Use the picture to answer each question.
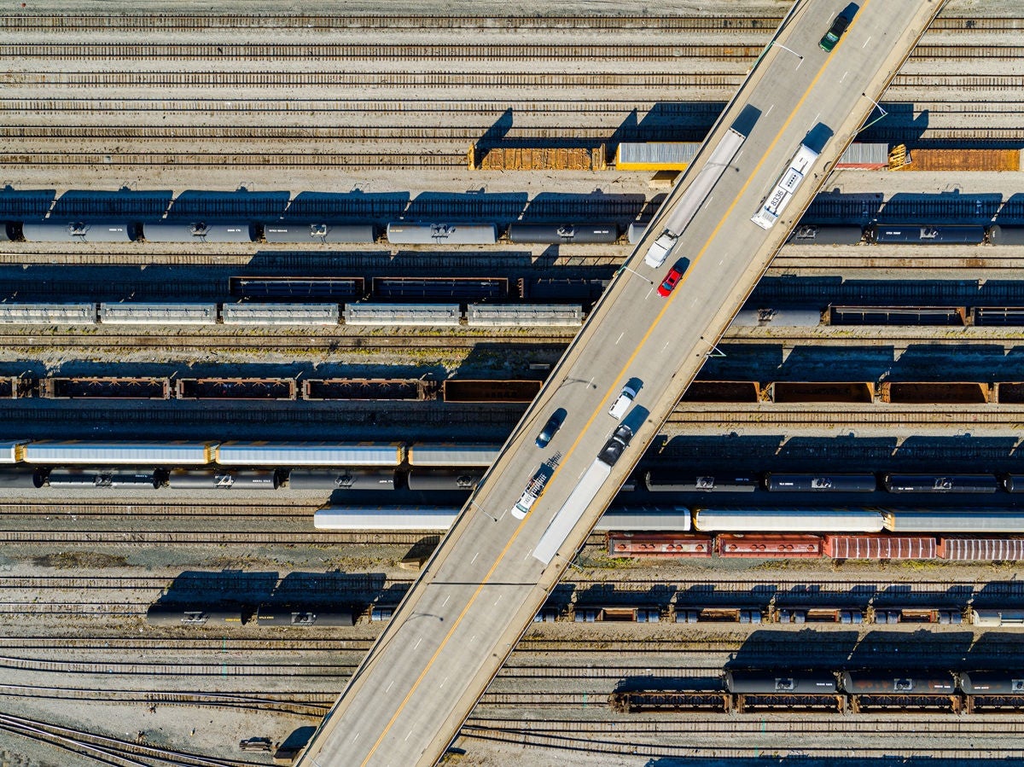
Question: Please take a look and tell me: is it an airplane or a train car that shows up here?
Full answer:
I can see a train car in this picture.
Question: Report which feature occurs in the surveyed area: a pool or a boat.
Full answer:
The image shows a boat.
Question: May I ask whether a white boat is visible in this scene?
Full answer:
No, I can see no white boat in this picture.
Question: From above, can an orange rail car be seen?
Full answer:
Yes, this view includes an orange rail car.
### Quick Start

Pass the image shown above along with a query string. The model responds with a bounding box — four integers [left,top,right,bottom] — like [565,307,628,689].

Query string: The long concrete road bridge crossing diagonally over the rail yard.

[274,0,943,767]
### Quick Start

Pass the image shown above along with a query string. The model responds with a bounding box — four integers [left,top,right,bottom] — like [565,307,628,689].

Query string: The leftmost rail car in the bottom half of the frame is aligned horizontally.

[0,467,51,489]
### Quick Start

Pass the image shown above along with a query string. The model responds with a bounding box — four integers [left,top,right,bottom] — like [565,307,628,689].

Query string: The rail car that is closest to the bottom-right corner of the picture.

[954,667,1024,696]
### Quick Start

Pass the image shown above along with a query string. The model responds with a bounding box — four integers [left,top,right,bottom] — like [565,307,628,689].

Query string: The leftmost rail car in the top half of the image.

[0,222,20,245]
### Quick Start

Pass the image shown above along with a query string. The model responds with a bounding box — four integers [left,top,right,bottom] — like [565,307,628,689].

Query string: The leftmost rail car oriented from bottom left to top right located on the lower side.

[620,469,641,491]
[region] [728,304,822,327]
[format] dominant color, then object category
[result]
gray rail car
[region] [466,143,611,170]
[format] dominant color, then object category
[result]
orange rail car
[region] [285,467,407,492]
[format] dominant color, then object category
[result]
gray rail car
